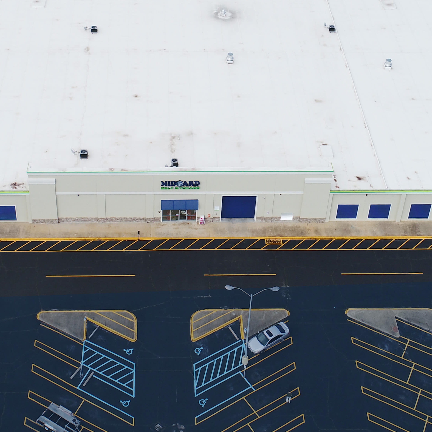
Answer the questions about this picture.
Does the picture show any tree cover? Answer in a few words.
No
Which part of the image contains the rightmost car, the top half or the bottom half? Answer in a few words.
bottom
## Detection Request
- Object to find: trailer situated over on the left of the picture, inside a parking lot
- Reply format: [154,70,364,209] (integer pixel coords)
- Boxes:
[37,405,84,432]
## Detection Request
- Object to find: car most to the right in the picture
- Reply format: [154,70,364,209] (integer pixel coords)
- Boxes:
[245,322,294,355]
